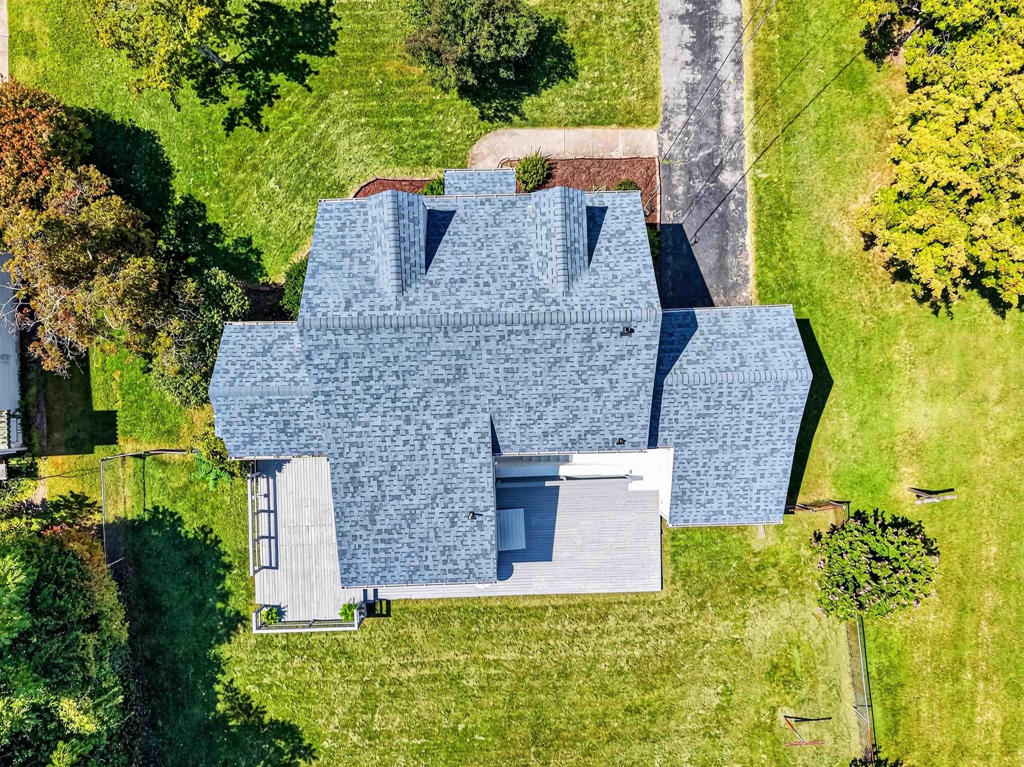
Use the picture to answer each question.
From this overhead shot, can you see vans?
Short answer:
No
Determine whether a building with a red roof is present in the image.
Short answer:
No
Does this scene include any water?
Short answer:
No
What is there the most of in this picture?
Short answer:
grass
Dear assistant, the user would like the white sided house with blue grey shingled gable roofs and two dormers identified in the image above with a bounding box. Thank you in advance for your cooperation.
[209,167,813,586]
